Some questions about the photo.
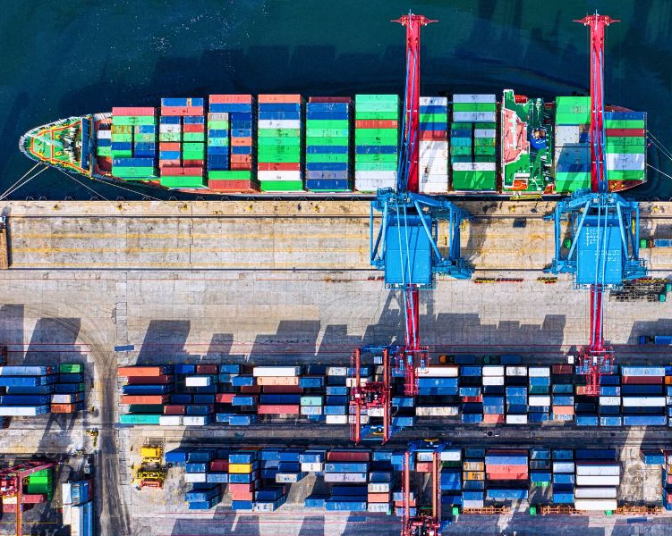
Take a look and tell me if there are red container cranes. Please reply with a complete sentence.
Yes, you can see a red container crane in this photo.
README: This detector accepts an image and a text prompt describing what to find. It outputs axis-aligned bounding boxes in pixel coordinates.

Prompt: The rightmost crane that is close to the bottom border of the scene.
[399,442,454,536]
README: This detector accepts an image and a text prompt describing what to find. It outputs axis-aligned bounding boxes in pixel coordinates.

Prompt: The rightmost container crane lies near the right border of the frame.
[536,2,657,395]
